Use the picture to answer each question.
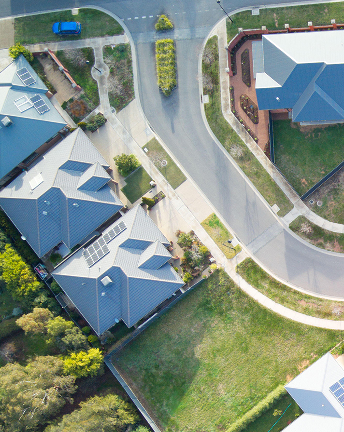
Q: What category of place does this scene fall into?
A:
residential area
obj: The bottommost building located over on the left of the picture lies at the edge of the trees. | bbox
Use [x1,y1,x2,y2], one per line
[54,203,187,335]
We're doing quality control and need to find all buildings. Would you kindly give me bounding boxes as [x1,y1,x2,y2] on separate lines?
[281,352,344,432]
[253,29,344,123]
[54,203,187,335]
[0,126,128,259]
[0,54,73,179]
